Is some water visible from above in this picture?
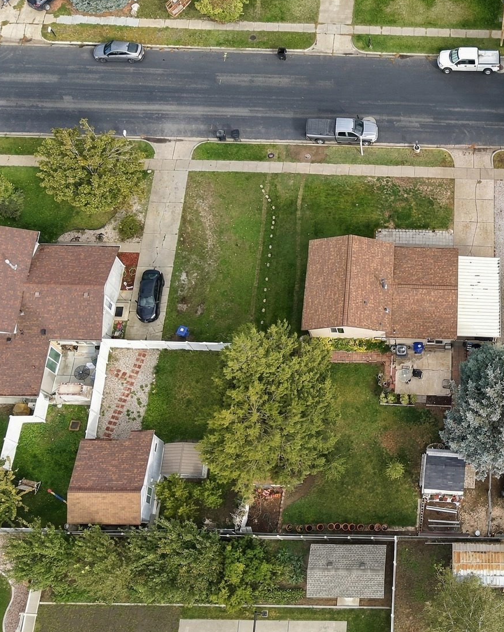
No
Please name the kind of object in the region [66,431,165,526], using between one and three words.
building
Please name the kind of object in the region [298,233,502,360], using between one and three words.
house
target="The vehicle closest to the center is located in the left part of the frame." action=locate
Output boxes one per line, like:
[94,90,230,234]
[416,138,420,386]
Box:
[134,269,167,322]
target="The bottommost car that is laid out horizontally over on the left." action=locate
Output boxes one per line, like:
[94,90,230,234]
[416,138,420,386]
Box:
[90,42,141,66]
